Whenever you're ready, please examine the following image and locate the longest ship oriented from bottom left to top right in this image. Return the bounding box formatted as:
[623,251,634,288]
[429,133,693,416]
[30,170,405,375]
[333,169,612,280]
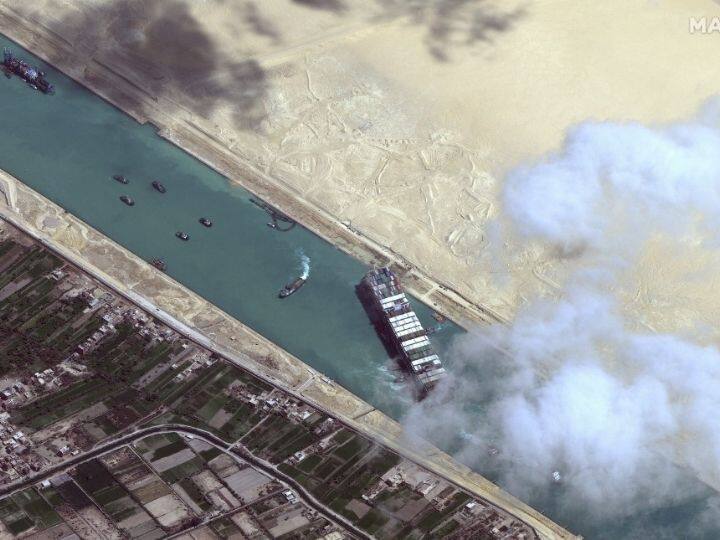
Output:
[280,277,307,296]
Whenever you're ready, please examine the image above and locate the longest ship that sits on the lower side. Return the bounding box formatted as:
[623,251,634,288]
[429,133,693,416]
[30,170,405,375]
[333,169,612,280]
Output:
[371,271,452,405]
